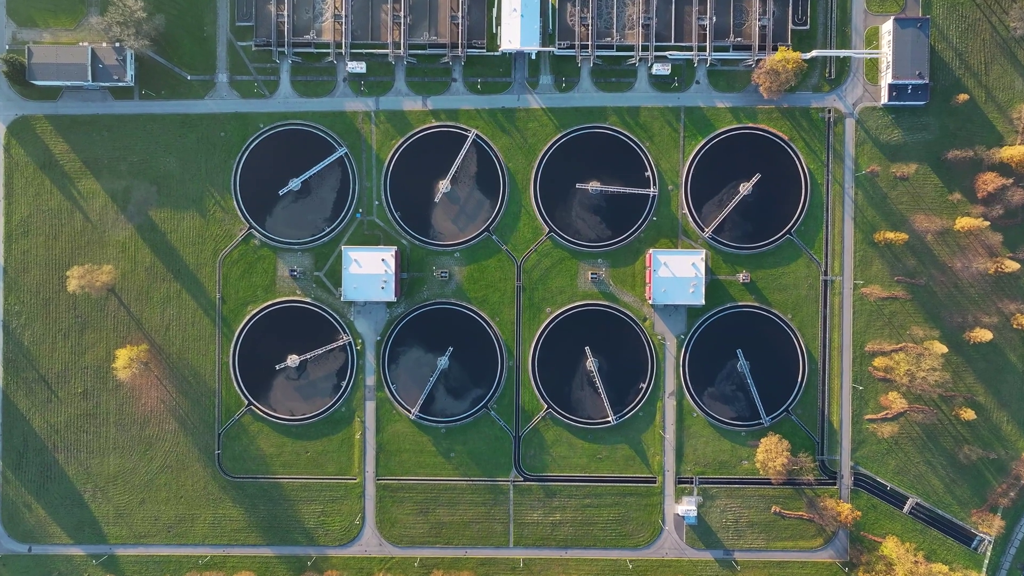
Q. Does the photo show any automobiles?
No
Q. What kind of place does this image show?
industrial area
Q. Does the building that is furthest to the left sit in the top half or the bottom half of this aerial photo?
top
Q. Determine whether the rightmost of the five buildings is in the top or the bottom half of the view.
top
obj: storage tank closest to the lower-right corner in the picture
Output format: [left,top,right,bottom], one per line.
[678,301,809,432]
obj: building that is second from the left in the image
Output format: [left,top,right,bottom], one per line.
[340,246,402,304]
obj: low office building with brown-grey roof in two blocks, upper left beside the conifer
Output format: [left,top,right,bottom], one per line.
[25,44,136,92]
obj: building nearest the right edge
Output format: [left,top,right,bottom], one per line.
[879,16,930,106]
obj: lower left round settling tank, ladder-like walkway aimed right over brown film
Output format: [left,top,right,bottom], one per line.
[229,296,359,426]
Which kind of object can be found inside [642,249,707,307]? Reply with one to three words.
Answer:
building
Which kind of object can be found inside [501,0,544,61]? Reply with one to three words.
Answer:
building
